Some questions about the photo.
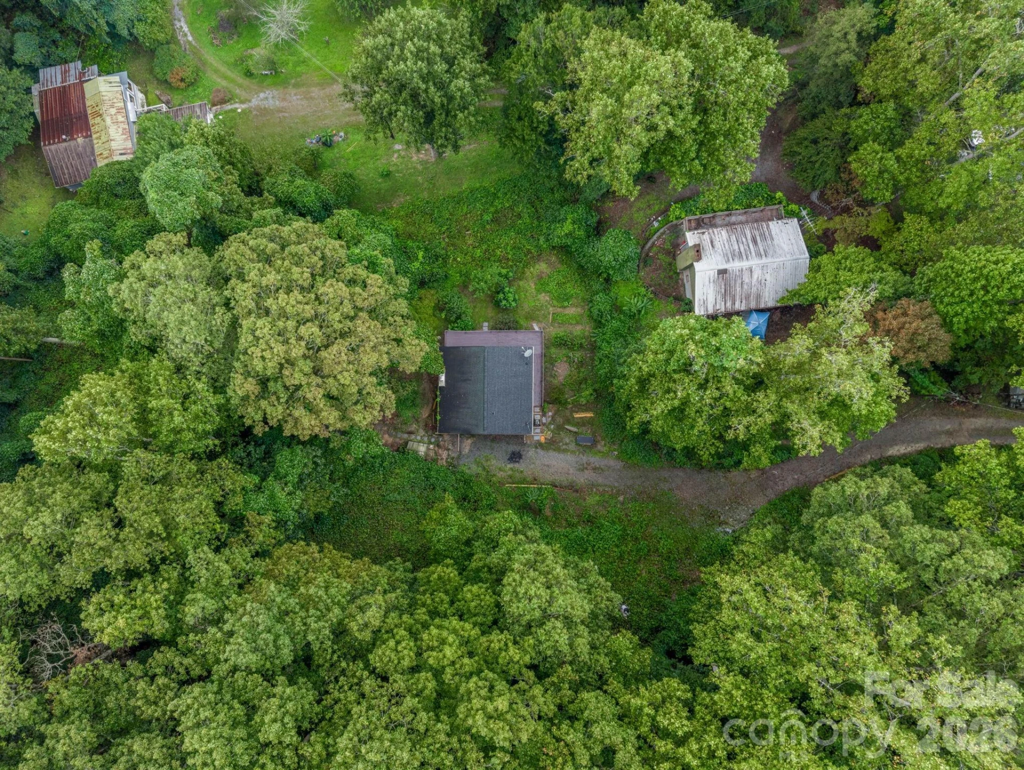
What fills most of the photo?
trees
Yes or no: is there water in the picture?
No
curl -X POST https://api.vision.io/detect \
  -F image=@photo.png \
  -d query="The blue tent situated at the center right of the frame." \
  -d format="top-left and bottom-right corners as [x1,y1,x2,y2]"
[745,310,771,341]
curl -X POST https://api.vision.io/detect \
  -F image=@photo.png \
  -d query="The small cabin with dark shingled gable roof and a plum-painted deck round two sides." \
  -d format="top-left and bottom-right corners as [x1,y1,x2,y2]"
[437,330,543,436]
